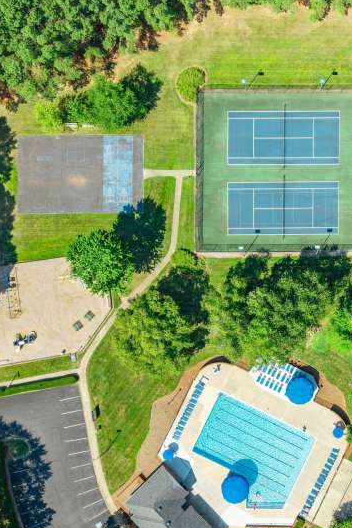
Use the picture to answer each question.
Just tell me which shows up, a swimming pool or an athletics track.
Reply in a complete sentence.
Of the two, only a swimming pool appears.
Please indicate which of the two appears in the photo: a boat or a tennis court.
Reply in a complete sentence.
The image shows a tennis court.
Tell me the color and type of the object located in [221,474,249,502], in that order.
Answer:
blue umbrella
